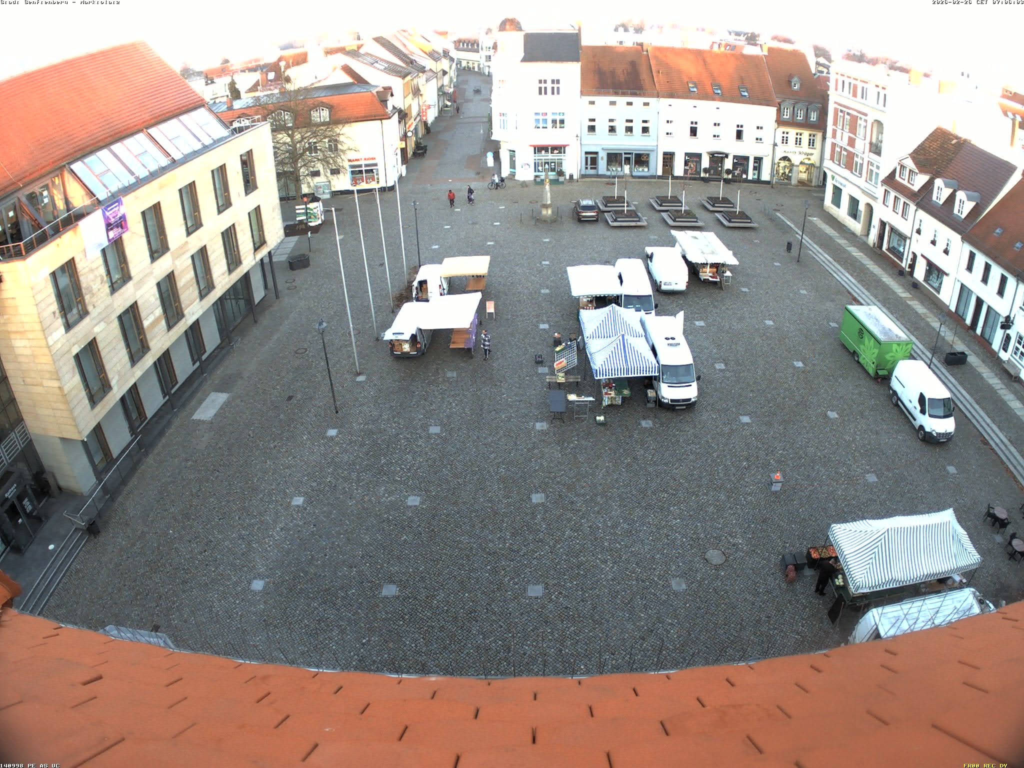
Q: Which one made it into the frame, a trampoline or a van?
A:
van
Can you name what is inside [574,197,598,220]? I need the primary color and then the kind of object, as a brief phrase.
gray car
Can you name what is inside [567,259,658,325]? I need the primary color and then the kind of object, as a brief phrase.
white van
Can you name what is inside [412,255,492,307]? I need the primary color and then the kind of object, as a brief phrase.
white van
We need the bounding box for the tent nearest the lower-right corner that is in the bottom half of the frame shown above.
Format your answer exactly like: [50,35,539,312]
[822,509,983,630]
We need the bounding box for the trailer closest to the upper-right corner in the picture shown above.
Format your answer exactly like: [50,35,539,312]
[839,301,916,375]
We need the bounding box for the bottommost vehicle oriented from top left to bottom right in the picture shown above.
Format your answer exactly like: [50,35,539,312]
[882,352,953,443]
